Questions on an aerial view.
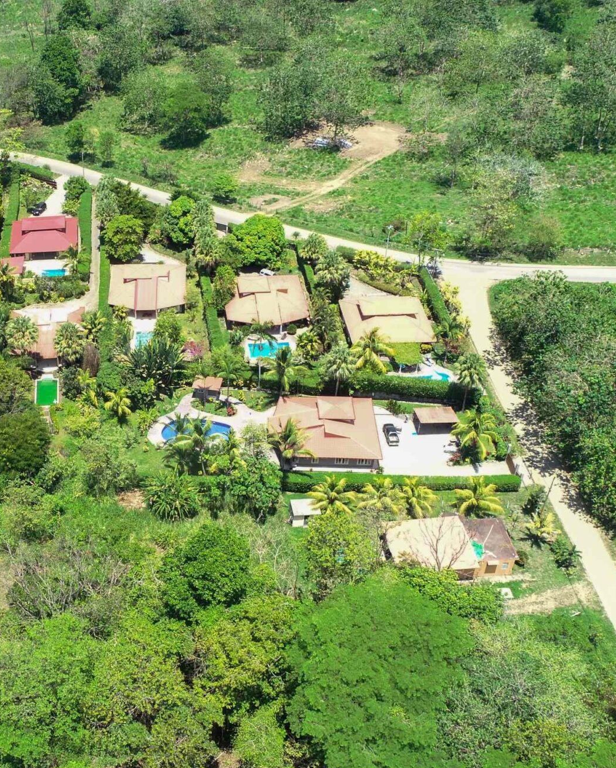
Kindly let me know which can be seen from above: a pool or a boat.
pool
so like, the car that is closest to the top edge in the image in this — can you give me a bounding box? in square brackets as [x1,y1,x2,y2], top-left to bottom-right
[31,203,47,216]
